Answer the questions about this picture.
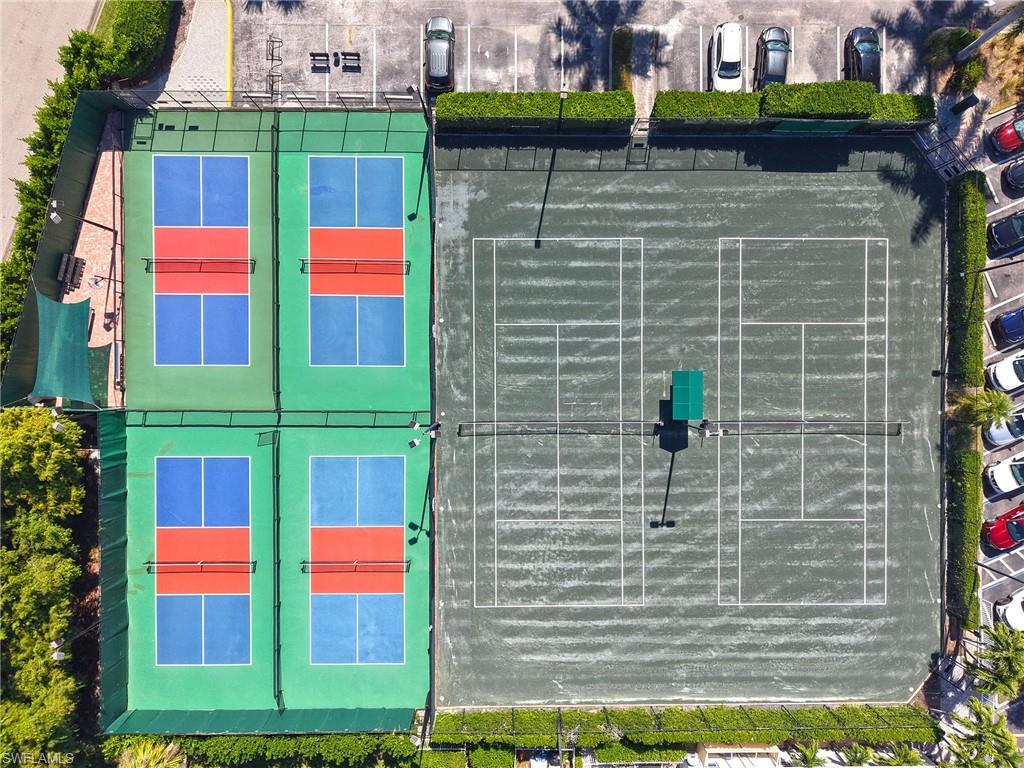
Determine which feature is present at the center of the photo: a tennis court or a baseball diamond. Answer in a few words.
tennis court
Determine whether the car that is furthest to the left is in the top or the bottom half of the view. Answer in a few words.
top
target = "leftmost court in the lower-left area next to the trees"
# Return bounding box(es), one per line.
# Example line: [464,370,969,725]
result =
[128,413,278,709]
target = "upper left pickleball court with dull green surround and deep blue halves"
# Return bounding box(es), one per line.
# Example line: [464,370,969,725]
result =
[123,110,277,411]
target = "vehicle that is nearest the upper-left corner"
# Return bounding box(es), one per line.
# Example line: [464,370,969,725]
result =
[422,17,458,96]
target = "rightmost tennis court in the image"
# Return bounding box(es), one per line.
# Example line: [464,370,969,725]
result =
[681,136,945,704]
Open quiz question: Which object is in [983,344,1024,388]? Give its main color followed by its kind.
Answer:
white car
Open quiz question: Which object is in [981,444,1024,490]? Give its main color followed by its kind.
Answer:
white car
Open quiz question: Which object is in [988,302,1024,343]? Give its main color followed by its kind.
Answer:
blue car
